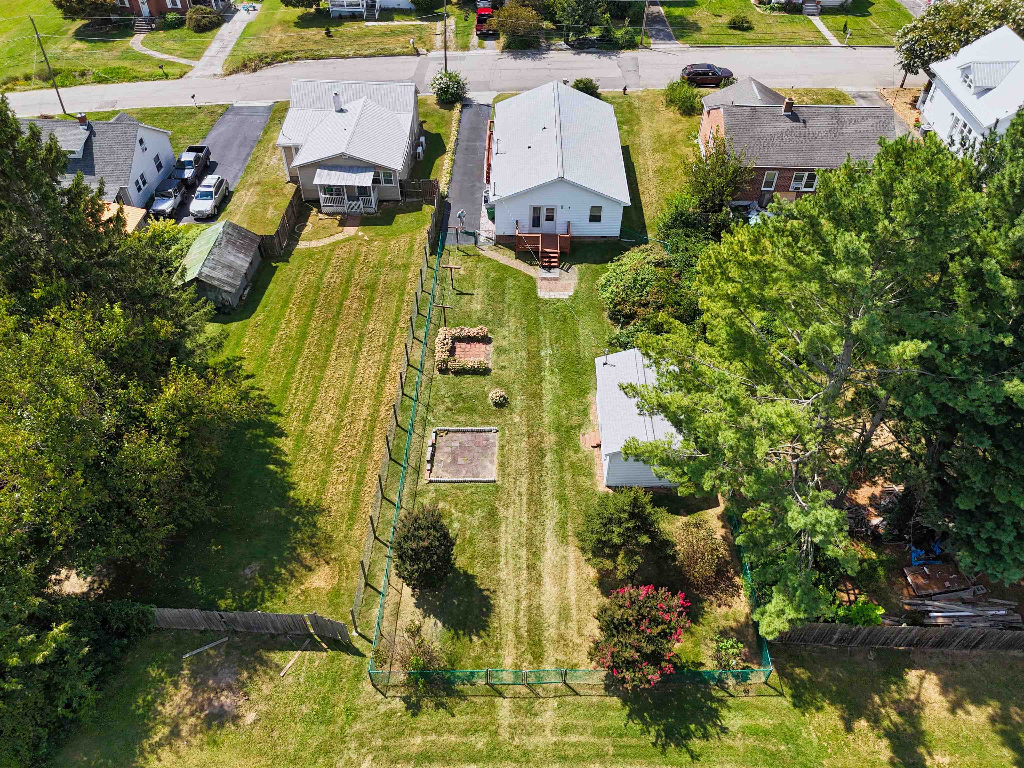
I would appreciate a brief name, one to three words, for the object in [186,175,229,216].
car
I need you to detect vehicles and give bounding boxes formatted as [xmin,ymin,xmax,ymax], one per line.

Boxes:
[477,4,501,32]
[683,61,741,88]
[166,148,210,186]
[140,179,186,223]
[186,175,229,216]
